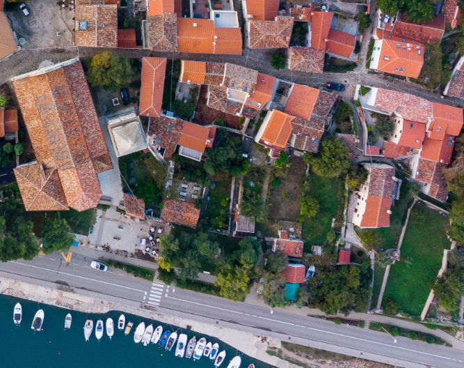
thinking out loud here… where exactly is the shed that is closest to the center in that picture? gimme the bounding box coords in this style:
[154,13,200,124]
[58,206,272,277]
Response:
[235,210,256,233]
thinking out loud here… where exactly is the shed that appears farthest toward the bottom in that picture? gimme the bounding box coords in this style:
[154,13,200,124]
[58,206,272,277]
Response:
[284,262,306,284]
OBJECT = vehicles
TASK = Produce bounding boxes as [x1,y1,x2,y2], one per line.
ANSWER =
[122,89,129,106]
[91,261,108,272]
[20,2,30,16]
[328,83,348,90]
